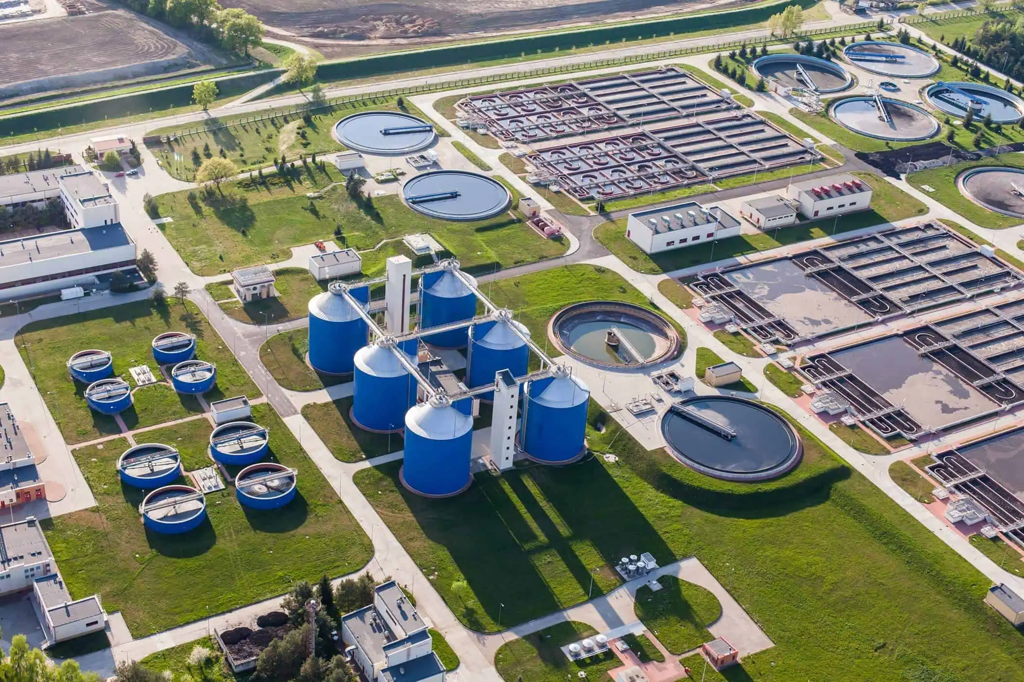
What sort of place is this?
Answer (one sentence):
This looks like an industrial area.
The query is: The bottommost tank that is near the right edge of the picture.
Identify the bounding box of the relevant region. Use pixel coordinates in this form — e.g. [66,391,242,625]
[959,167,1024,219]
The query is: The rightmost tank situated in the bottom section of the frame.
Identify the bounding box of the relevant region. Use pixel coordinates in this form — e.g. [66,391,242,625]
[658,395,803,482]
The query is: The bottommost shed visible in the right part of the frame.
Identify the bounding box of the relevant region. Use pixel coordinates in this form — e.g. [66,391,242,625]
[702,637,737,671]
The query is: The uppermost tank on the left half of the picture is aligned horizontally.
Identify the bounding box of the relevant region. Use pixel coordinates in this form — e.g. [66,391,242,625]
[336,110,436,154]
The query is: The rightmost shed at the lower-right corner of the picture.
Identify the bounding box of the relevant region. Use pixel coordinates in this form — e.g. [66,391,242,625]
[983,585,1024,623]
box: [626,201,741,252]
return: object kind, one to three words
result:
building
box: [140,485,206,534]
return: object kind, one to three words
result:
storage tank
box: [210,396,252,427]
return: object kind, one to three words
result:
shed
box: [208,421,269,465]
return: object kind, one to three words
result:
storage tank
